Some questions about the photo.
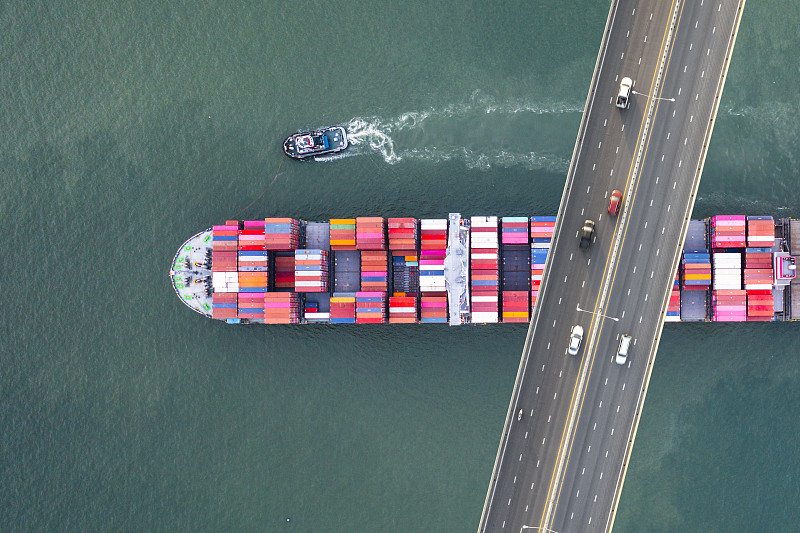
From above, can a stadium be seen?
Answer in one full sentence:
No, there appears to be no stadium in this shot.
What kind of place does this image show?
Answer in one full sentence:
What you see here is a port.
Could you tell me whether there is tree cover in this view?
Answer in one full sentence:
No, there is no tree cover in the image.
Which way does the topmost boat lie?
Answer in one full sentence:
The topmost boat runs horizontally in the image.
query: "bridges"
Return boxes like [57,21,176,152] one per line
[477,0,747,533]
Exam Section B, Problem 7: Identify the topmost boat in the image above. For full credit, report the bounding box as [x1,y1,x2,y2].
[284,125,350,157]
